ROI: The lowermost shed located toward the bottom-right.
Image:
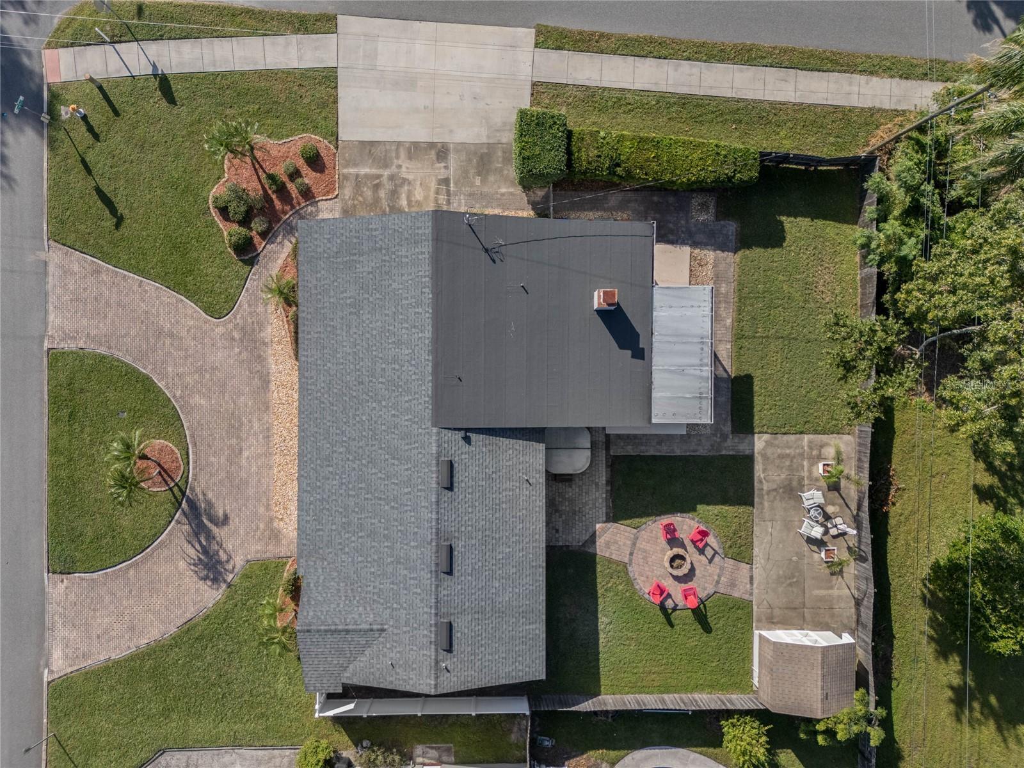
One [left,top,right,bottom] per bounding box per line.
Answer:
[753,627,856,718]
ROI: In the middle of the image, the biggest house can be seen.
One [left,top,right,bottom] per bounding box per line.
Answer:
[295,211,713,694]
